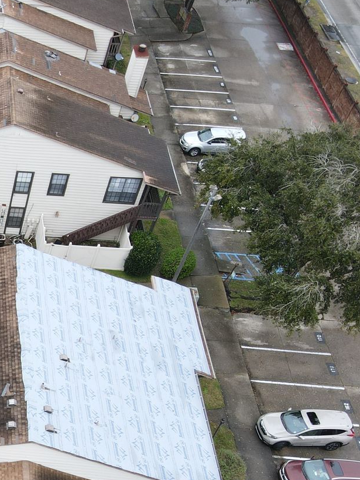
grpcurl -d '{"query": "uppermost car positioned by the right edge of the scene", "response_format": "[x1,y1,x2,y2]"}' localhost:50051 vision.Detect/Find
[260,405,356,450]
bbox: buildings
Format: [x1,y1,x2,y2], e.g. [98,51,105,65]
[0,244,225,480]
[0,0,180,252]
